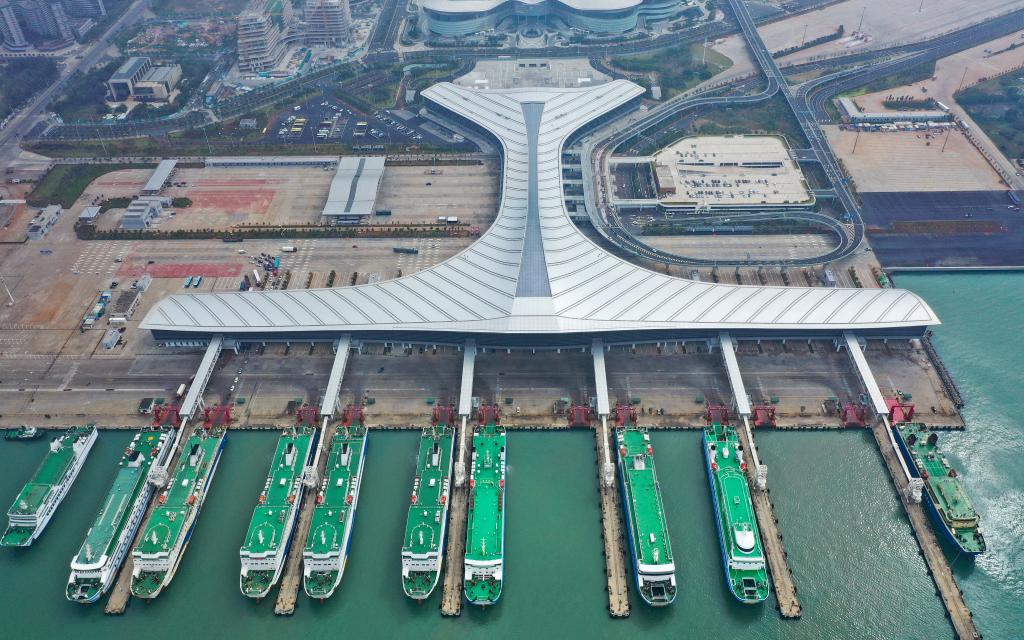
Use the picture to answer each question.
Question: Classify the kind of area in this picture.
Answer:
port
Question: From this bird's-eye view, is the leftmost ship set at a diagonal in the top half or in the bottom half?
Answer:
bottom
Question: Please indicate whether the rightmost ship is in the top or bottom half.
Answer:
bottom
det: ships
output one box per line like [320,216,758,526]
[895,421,982,559]
[0,424,100,548]
[616,425,676,609]
[241,426,317,602]
[702,425,770,606]
[464,425,507,608]
[130,428,227,602]
[303,426,366,602]
[400,426,455,603]
[68,426,176,604]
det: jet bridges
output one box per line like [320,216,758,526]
[591,342,619,493]
[304,339,364,491]
[720,338,769,495]
[843,335,925,505]
[453,344,489,491]
[145,337,237,491]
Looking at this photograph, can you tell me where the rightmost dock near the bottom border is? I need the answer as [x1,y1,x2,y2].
[866,428,984,640]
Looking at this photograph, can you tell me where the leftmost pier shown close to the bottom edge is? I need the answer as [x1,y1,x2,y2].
[106,431,192,615]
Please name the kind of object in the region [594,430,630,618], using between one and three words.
pier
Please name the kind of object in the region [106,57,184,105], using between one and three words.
building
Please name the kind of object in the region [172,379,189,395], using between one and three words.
vehicle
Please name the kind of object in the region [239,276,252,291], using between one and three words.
vehicle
